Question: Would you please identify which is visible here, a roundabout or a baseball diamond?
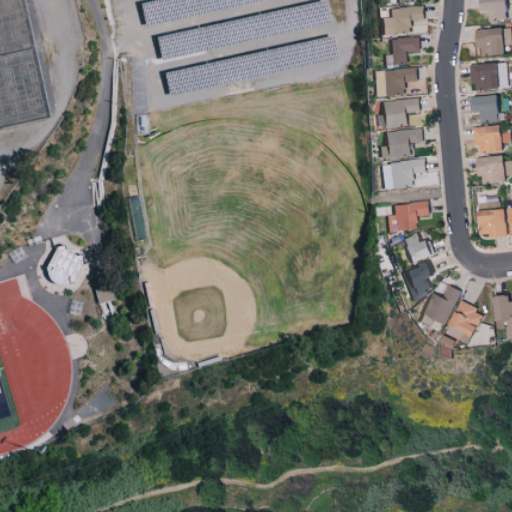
baseball diamond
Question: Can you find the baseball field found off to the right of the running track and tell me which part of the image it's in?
center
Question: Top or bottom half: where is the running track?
bottom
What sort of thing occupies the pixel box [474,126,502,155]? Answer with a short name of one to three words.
house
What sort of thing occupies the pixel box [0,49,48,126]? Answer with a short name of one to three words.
tennis court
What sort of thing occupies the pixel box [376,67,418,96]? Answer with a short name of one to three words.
house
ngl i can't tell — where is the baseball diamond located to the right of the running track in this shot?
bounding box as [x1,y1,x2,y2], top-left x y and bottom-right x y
[139,119,367,366]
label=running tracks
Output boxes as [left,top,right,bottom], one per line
[0,279,74,454]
